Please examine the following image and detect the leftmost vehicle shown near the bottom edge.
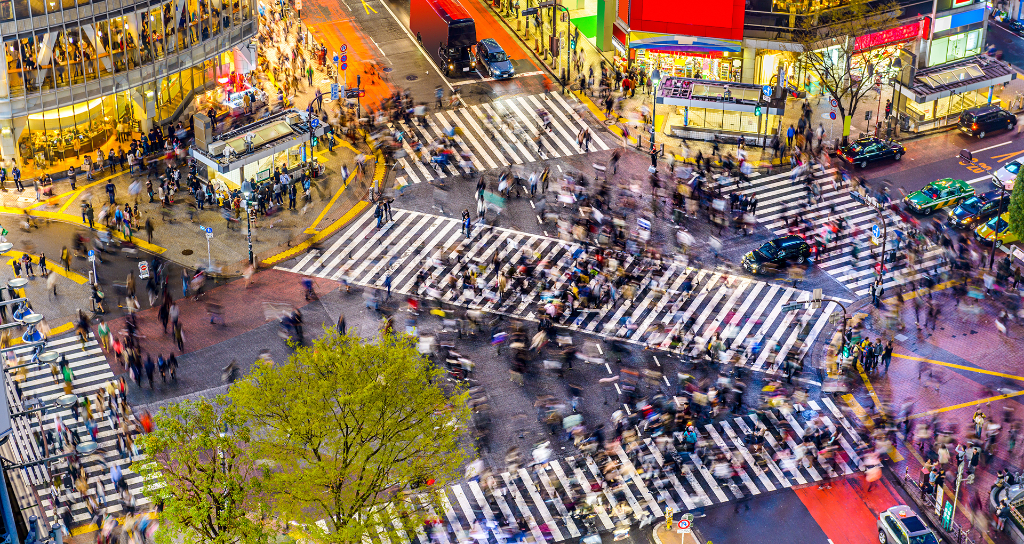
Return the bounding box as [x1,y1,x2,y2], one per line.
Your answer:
[876,507,939,544]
